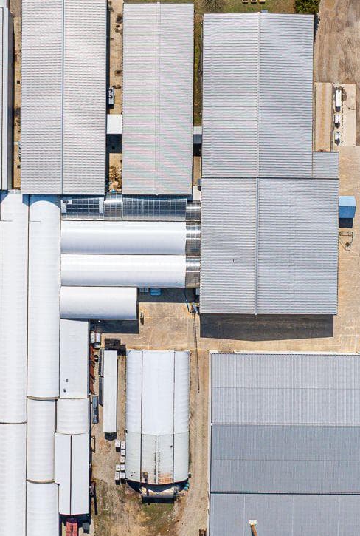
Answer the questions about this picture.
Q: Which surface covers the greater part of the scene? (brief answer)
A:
buildings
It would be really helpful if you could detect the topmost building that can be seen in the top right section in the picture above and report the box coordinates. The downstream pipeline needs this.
[202,12,338,177]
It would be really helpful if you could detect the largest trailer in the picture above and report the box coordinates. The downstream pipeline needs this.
[104,349,117,433]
